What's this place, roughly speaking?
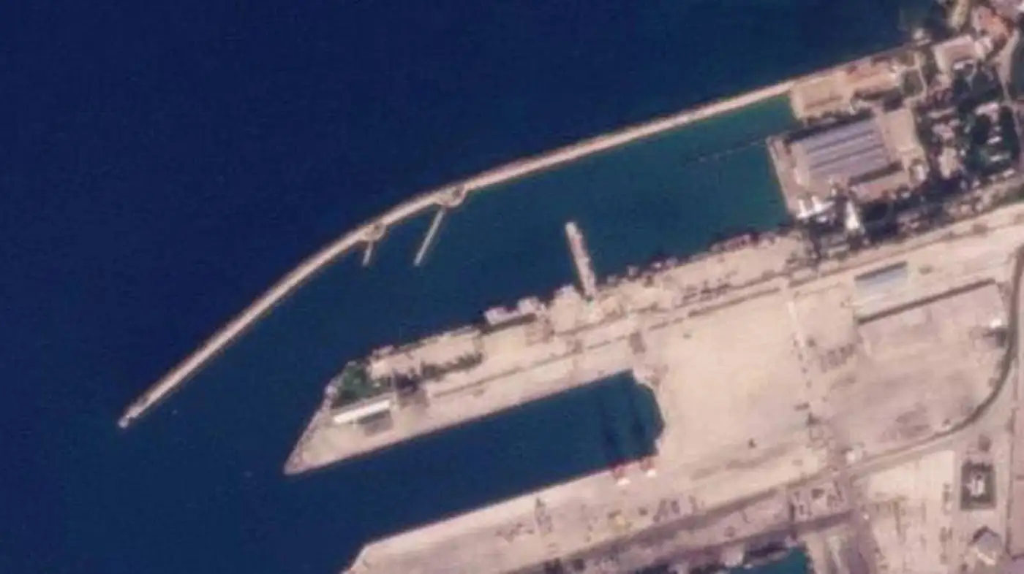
port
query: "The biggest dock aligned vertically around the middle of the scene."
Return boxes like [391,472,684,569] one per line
[567,223,596,304]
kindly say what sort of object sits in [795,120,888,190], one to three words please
building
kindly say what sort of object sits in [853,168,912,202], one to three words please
building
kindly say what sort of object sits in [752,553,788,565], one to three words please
ship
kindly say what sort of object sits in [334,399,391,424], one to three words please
shed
